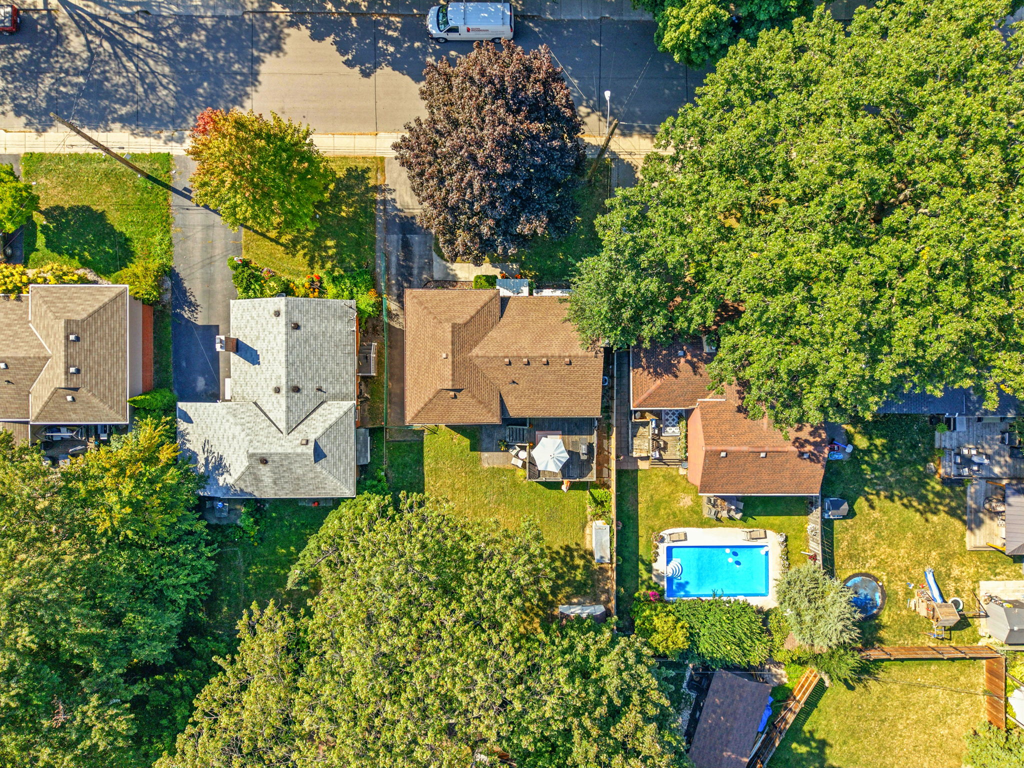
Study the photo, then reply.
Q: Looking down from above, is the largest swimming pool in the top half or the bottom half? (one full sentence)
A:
Seen from above, the largest swimming pool lies in the bottom half of the view.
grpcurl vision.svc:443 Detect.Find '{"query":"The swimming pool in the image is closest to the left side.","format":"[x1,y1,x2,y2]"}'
[659,542,773,601]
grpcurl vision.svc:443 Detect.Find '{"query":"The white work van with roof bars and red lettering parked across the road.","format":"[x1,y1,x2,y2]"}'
[427,0,513,44]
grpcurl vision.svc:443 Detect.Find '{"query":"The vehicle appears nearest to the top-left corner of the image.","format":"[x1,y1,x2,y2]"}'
[0,5,27,40]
